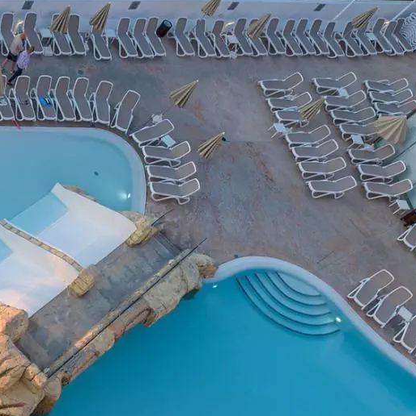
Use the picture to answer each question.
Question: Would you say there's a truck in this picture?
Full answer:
No, there isn't any truck down there.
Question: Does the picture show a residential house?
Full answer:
No, no residential house is visible in the view.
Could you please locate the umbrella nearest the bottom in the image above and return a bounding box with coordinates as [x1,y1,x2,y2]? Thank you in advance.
[192,131,225,162]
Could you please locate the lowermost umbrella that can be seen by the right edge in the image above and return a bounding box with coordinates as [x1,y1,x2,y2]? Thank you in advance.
[359,109,410,149]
